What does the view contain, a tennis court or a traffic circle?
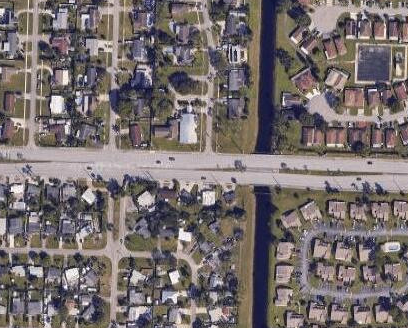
tennis court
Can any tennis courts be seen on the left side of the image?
No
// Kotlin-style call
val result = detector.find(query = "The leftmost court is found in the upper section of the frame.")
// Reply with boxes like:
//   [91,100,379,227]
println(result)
[356,44,392,83]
